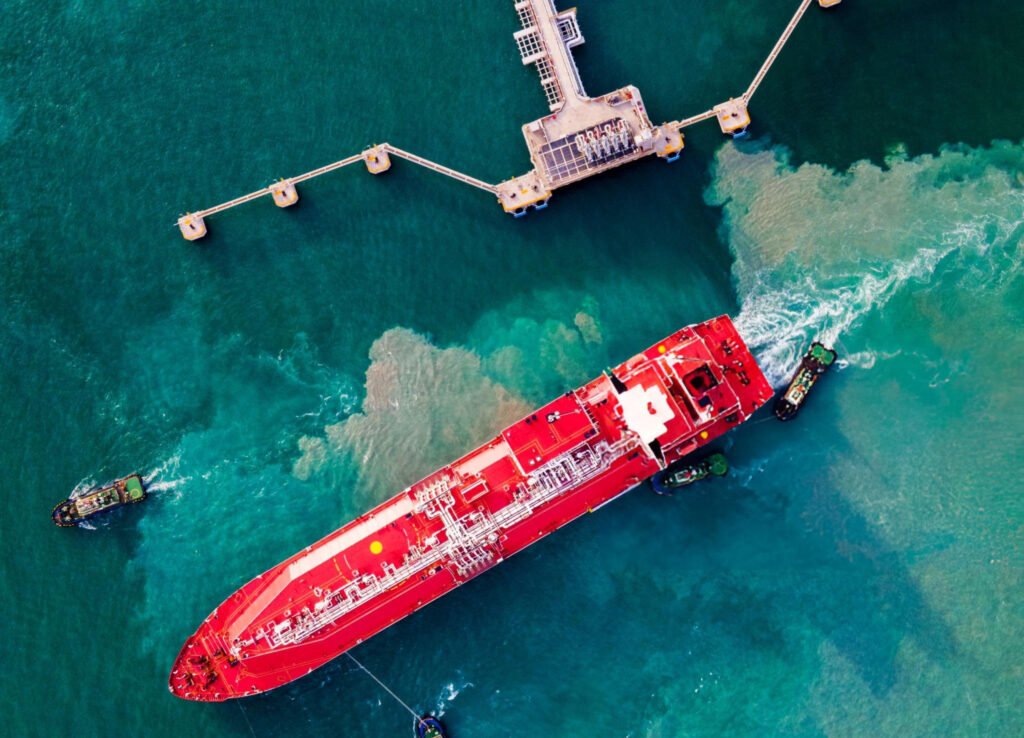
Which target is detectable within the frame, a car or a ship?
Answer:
ship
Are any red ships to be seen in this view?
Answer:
Yes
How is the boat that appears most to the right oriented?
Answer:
on a diagonal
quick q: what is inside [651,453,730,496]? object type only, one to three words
boat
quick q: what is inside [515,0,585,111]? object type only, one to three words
pier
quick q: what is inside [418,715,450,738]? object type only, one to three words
boat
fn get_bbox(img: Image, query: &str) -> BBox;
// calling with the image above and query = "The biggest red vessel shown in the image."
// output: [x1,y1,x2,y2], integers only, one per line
[167,315,775,704]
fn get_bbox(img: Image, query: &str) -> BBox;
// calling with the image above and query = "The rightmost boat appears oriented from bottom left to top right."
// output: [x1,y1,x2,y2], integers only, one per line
[777,339,840,421]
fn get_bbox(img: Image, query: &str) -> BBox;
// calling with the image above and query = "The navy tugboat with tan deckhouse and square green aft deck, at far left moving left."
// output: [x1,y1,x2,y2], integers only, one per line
[52,476,145,523]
